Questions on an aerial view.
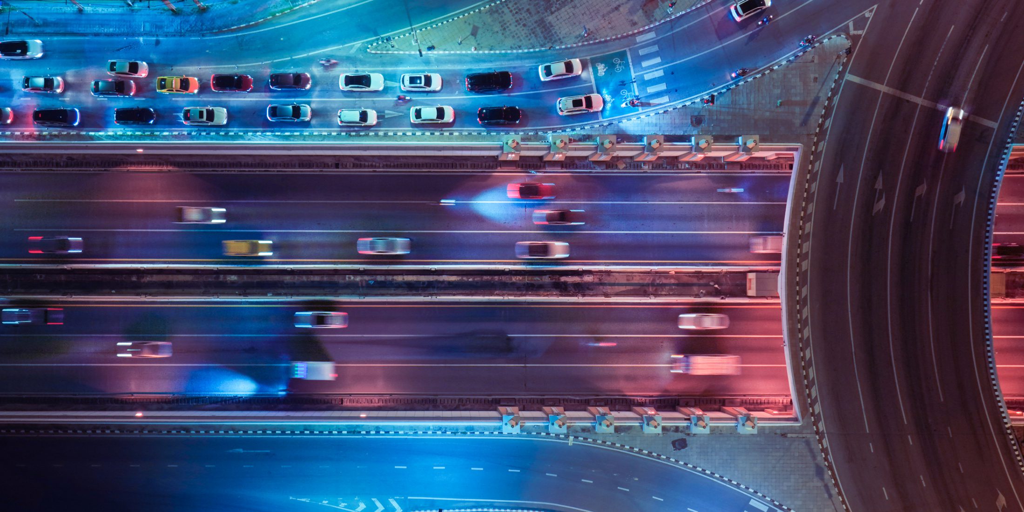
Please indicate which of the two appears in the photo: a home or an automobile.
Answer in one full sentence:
It is an automobile that can be seen here.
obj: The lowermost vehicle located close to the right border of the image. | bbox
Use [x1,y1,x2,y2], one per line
[995,241,1024,261]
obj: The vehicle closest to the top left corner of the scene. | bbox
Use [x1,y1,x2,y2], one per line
[0,38,44,59]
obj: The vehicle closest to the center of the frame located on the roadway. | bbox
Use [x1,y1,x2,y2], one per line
[520,240,564,260]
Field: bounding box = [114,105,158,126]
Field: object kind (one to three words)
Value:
car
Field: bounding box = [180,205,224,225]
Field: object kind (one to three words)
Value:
vehicle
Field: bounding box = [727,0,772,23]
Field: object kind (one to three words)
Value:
car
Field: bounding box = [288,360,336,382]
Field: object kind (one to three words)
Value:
truck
